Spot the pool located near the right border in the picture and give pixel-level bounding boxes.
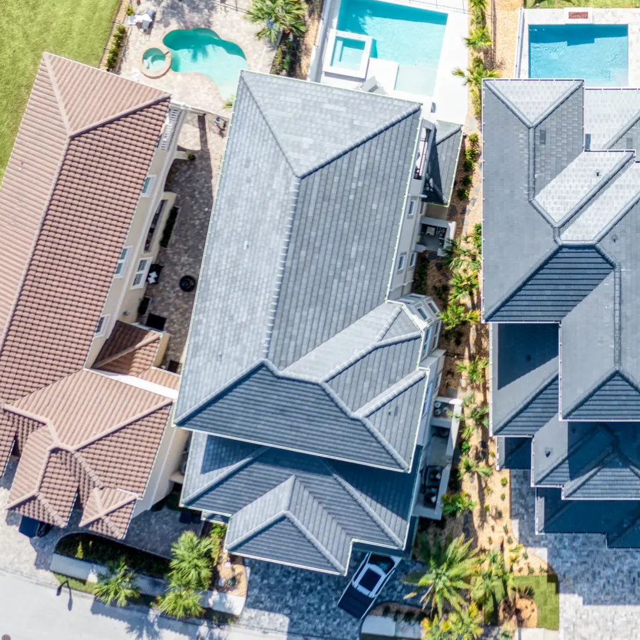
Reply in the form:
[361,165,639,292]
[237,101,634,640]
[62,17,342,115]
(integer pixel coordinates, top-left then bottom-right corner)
[524,19,633,87]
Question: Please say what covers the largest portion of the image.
buildings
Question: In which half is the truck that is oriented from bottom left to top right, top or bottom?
bottom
